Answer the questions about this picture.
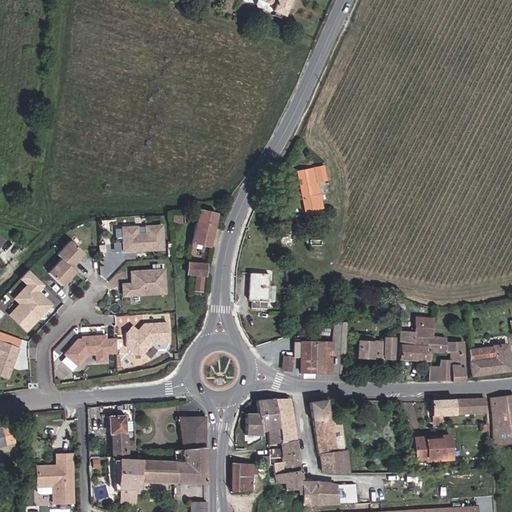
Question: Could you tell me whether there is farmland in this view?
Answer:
Yes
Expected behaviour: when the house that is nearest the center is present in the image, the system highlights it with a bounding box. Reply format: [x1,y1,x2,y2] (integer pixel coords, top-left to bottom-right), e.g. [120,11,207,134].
[250,270,276,302]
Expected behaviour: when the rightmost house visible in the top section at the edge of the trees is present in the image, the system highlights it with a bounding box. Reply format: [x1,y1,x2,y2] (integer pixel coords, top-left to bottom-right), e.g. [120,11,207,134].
[298,166,328,212]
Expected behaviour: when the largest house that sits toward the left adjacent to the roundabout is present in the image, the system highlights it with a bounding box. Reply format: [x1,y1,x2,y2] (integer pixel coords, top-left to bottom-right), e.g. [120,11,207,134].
[120,448,209,504]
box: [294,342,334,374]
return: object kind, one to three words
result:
barn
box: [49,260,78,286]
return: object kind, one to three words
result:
house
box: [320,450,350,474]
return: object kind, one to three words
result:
barn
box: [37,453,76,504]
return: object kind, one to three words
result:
house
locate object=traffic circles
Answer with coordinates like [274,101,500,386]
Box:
[168,307,280,426]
